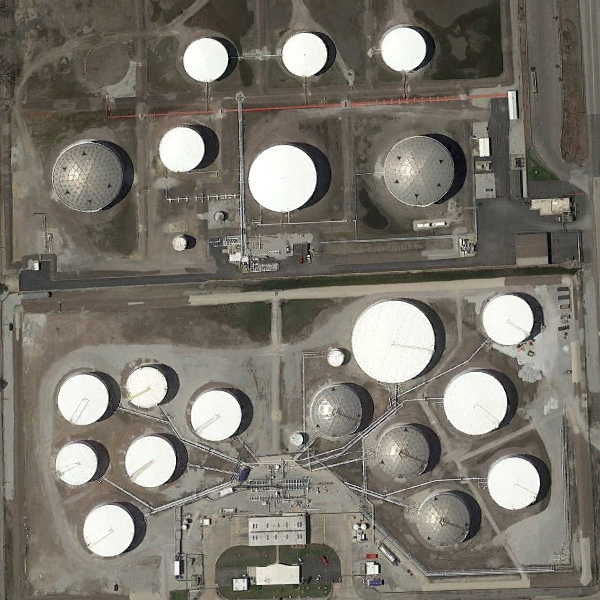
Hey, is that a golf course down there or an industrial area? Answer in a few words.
industrial area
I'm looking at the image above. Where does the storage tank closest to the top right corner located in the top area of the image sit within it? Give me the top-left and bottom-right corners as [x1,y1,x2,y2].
[380,24,428,72]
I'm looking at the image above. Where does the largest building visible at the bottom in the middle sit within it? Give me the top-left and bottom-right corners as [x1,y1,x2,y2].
[249,516,306,546]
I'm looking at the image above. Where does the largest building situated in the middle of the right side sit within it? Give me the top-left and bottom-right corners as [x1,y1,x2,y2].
[516,233,548,265]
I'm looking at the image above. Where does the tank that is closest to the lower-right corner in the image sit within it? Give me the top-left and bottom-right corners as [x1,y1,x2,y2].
[486,454,541,512]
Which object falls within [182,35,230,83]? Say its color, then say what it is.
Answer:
white storage tank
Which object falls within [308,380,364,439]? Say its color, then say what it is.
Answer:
gray storage tank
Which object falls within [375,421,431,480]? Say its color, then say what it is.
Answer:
gray storage tank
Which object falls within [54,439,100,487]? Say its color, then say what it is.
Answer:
white storage tank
